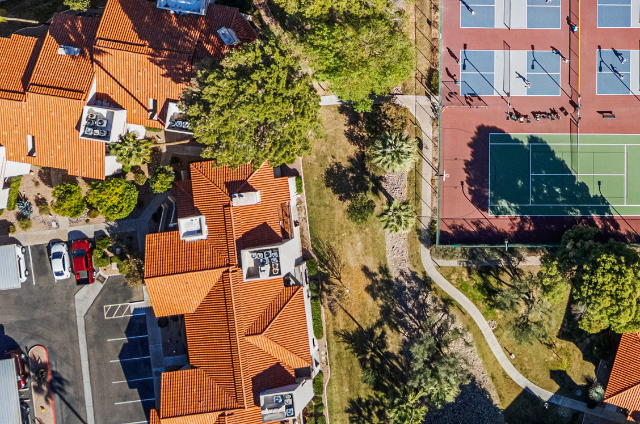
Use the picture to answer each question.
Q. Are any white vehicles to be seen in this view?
Yes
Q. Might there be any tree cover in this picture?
Yes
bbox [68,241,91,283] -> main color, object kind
red truck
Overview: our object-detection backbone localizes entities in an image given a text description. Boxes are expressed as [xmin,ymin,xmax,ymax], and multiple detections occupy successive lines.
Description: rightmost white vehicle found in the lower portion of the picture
[45,243,67,280]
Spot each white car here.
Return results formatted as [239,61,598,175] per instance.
[45,243,67,280]
[17,246,30,282]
